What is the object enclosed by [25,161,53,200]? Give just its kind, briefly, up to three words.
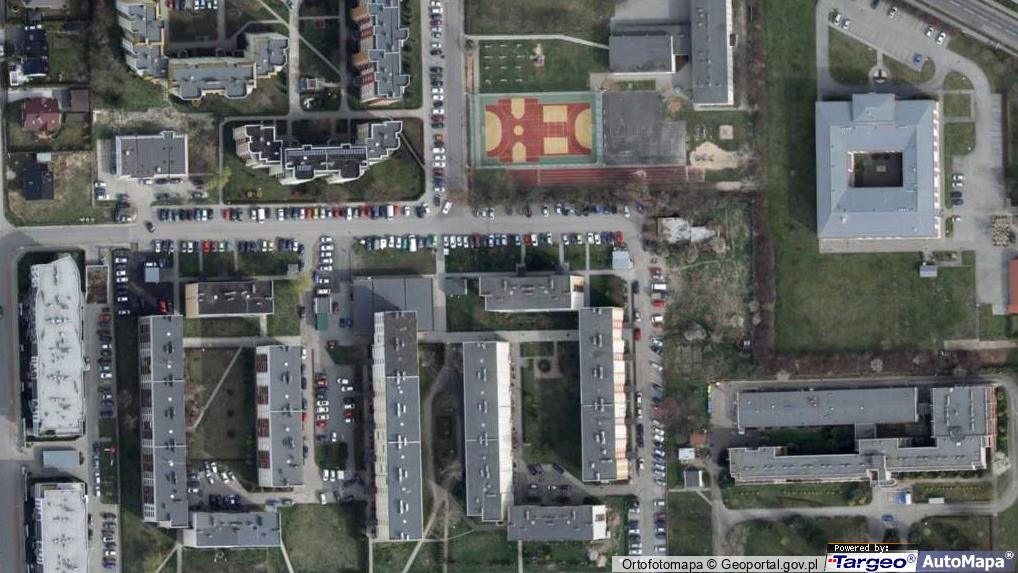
house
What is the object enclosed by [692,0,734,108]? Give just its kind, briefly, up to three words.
building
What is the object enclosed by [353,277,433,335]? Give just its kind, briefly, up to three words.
building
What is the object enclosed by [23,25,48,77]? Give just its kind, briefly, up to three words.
house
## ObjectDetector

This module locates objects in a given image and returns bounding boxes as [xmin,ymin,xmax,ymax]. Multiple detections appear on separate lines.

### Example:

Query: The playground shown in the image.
[690,141,739,169]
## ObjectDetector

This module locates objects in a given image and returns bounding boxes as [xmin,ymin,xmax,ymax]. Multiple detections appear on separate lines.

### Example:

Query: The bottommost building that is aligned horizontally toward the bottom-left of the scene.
[185,512,281,549]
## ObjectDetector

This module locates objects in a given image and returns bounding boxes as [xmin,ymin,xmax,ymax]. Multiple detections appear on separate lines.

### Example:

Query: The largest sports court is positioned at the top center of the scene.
[471,90,602,169]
